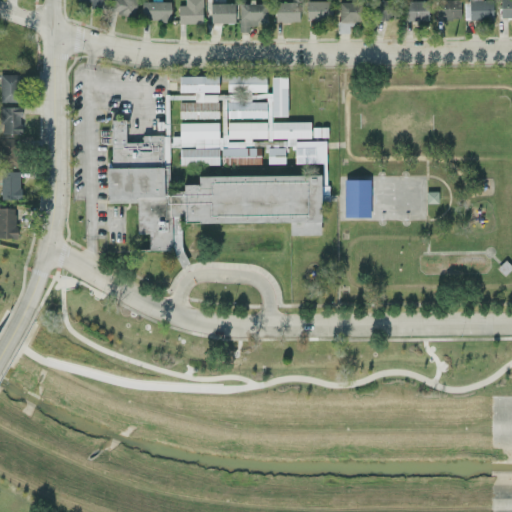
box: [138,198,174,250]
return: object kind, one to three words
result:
building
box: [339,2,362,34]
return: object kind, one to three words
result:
house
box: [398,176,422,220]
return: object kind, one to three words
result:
basketball court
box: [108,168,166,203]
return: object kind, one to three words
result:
building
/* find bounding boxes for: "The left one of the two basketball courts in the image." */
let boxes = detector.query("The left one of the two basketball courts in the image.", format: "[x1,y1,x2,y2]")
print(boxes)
[374,176,398,220]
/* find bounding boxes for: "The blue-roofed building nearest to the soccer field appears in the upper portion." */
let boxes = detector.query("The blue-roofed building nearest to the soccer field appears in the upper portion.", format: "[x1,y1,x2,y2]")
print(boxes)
[346,180,372,218]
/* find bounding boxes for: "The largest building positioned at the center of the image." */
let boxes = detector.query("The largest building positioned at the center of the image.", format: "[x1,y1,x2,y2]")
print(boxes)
[184,176,322,236]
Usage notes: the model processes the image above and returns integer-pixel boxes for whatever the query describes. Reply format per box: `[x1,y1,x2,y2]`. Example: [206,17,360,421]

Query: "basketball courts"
[398,176,422,220]
[374,176,398,220]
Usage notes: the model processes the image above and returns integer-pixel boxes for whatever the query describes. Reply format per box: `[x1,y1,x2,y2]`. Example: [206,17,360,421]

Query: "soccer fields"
[362,99,432,145]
